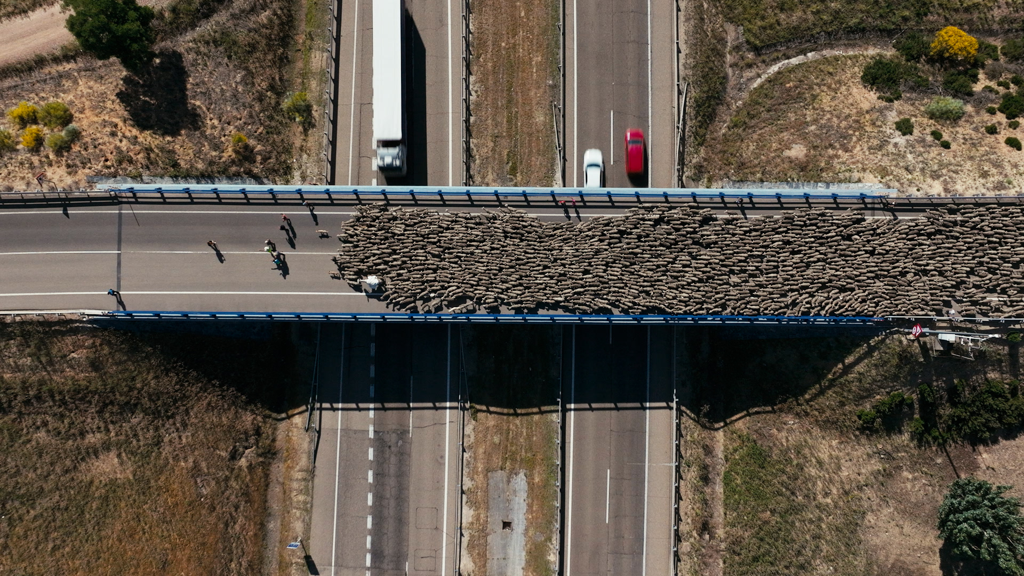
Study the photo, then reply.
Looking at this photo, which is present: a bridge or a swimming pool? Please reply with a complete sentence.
The image shows a bridge.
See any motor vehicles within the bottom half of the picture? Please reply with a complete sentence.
No, no motor vehicle can be made out within the bottom half of the picture.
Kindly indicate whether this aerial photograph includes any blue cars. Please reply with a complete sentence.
No, no blue car is visible in the scene.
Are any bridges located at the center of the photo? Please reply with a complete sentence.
Yes, there is a bridge at the center of the photo.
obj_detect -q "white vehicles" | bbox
[373,0,407,177]
[583,149,605,186]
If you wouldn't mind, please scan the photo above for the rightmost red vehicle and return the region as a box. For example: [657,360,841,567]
[624,128,646,173]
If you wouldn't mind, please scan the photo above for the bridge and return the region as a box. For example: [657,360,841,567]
[97,182,903,327]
